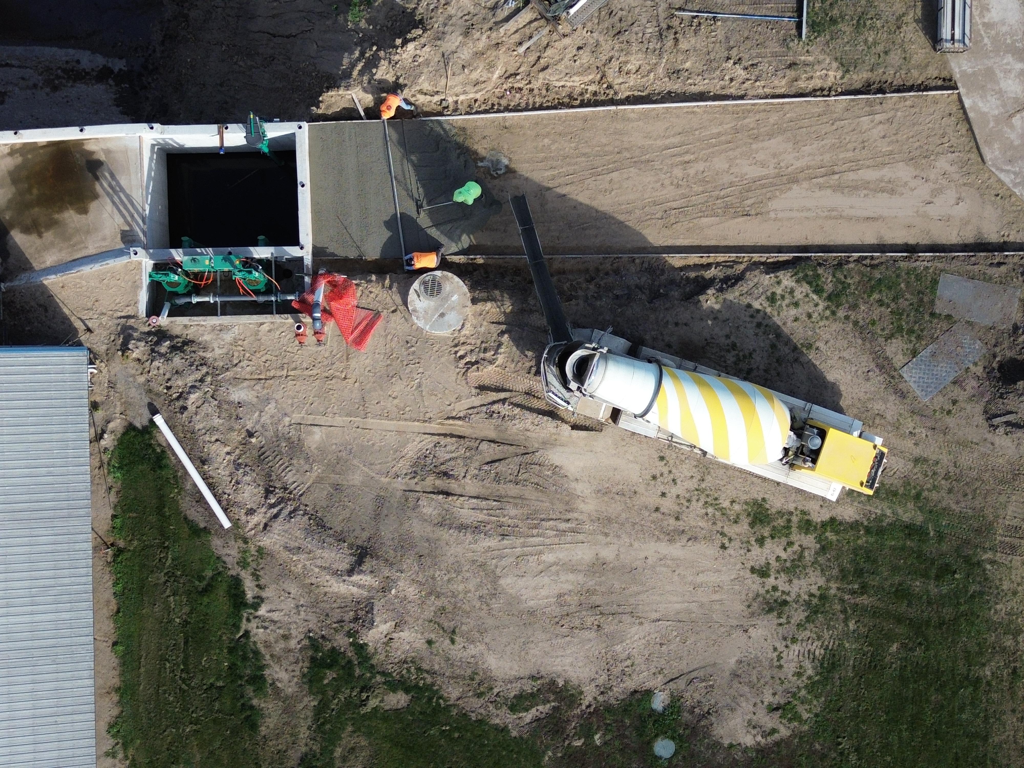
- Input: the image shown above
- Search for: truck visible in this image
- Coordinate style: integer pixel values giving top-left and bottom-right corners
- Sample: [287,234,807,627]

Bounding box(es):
[510,193,889,500]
